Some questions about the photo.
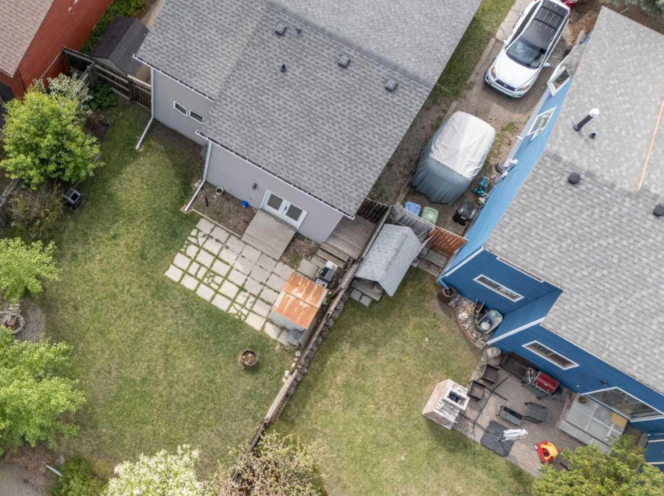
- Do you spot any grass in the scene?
Yes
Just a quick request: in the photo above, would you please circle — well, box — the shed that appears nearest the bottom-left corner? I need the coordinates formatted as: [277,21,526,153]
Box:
[268,273,328,335]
